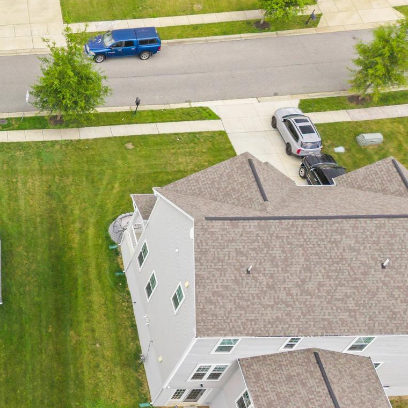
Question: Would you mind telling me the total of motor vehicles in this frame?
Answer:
3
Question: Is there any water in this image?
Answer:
No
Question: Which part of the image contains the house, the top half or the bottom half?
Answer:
bottom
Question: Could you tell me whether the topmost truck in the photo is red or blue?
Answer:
blue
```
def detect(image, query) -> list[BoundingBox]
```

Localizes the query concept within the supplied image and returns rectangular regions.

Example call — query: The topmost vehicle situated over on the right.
[269,107,324,161]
